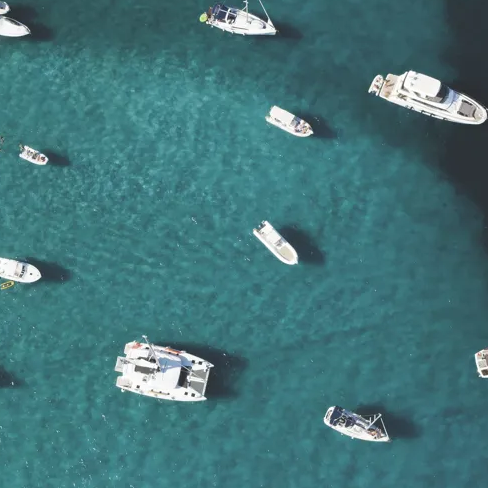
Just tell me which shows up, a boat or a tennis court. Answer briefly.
boat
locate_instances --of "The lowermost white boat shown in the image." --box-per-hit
[326,407,392,442]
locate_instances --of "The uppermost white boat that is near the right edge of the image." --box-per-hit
[370,73,488,126]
